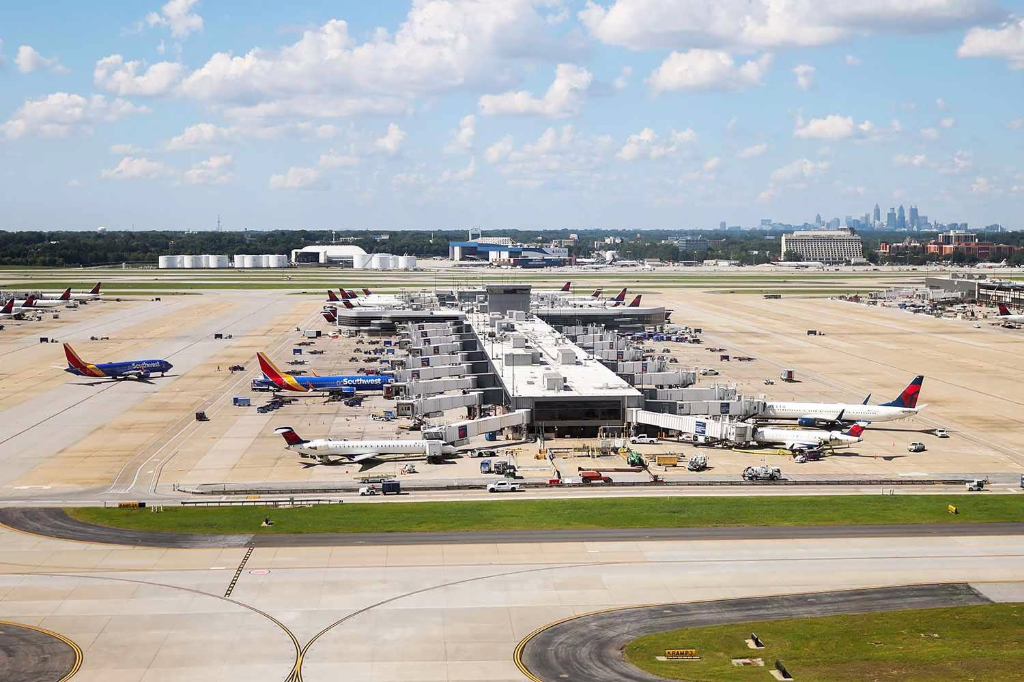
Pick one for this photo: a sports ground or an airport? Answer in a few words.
airport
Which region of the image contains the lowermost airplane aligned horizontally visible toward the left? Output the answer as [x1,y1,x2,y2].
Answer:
[271,427,456,468]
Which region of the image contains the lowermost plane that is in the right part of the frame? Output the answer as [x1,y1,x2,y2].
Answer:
[754,432,876,460]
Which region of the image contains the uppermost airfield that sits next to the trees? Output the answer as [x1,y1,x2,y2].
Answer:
[0,267,1024,322]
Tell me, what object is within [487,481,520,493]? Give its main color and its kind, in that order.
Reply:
white vehicle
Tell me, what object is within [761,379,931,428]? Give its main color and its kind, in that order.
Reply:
white airplane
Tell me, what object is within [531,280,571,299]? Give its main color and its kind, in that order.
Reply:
white airplane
